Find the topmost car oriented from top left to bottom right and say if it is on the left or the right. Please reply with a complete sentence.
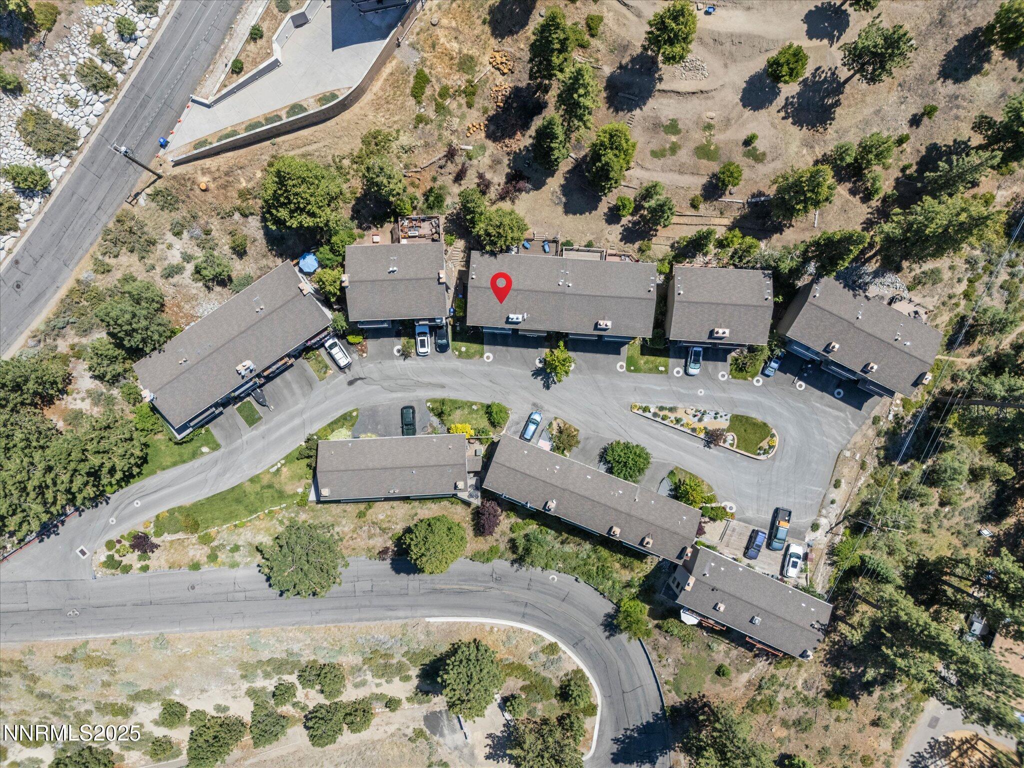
The topmost car oriented from top left to bottom right is on the left side of the image.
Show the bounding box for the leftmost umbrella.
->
[299,253,319,273]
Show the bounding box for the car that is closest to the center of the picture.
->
[521,410,542,441]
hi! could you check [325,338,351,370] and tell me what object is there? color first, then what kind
white car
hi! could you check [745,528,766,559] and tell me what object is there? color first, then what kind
blue car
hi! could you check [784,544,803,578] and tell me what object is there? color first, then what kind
white car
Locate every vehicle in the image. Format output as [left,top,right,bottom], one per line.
[761,353,786,380]
[769,508,791,550]
[521,410,542,441]
[400,405,416,436]
[325,338,351,370]
[434,325,450,353]
[687,348,702,376]
[415,325,431,357]
[745,528,766,559]
[784,544,803,578]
